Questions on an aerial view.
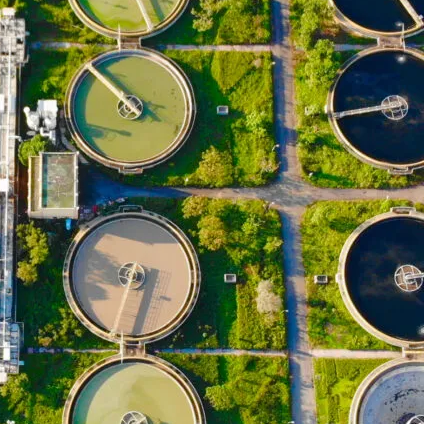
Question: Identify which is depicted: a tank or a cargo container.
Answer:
tank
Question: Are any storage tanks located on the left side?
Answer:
Yes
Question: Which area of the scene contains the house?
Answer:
left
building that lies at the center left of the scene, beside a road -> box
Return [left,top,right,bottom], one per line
[28,153,78,219]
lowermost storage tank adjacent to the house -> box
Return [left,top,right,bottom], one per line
[63,201,200,345]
